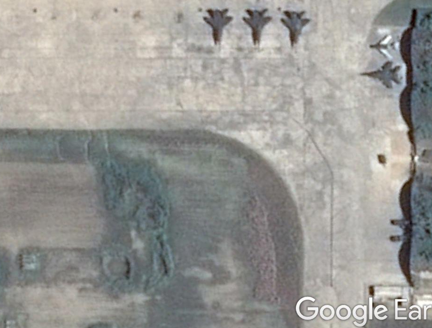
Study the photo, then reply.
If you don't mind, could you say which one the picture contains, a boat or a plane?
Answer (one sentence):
It is a plane that can be seen here.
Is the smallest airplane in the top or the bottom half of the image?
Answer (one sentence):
The top half of the photo is where the smallest airplane is.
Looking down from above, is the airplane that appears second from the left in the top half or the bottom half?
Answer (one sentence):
Seen from above, the airplane that appears second from the left lies in the top half of the view.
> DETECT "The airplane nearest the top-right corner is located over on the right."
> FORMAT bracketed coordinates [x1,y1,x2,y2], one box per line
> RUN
[371,35,398,58]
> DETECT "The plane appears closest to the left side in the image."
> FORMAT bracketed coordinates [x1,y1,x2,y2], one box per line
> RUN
[204,8,232,48]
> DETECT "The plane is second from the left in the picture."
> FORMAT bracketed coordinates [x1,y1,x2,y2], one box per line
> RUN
[244,8,271,46]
